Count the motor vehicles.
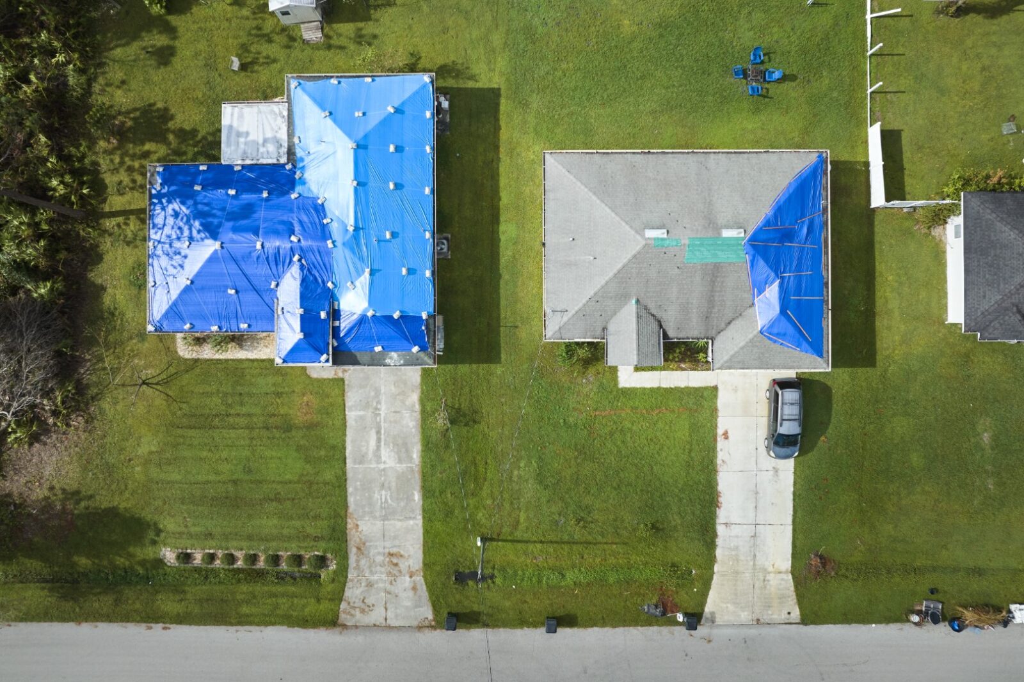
1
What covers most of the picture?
grass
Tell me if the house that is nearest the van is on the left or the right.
right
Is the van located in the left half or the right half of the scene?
right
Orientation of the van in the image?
from top to bottom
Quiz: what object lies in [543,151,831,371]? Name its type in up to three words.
house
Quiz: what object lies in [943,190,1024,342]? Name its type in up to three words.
house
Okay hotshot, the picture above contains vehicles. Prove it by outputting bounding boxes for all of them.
[764,378,804,460]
